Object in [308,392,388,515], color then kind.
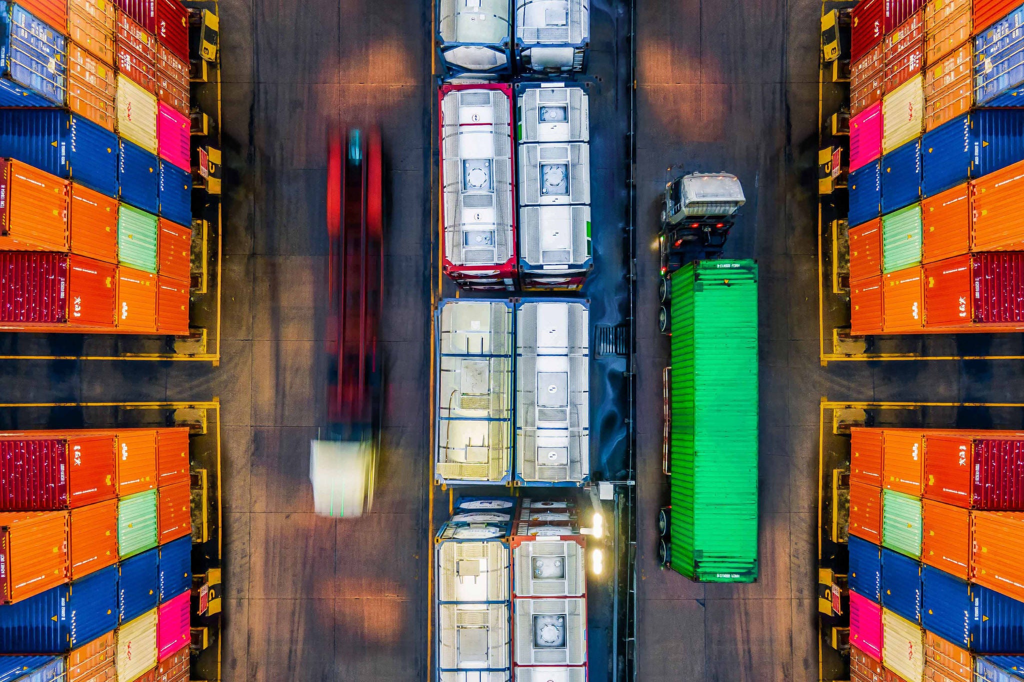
white truck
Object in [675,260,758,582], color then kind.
green shipping container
